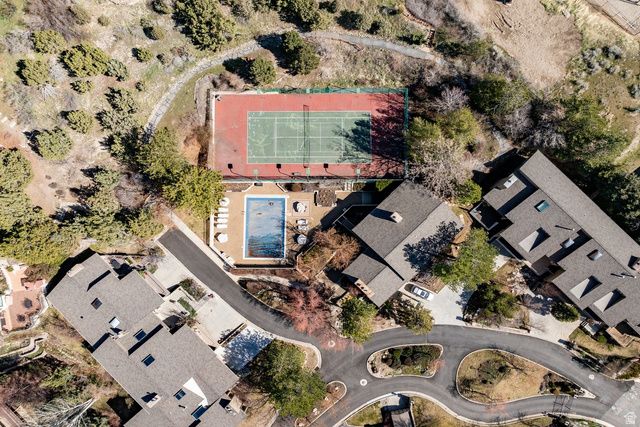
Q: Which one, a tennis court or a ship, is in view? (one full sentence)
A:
Visible in the photo is a tennis court.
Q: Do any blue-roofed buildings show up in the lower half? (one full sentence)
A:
No, I can find no blue-roofed building in the lower half.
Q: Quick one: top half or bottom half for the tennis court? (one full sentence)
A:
Seen from above, the tennis court lies in the top half of the view.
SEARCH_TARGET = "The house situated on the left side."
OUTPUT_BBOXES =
[47,253,248,427]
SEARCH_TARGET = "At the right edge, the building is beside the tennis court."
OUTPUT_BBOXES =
[478,150,640,336]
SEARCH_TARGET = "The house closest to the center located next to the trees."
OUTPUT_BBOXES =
[342,178,464,308]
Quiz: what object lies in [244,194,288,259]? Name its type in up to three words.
swimming pool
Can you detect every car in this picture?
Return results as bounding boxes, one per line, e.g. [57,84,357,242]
[412,284,436,303]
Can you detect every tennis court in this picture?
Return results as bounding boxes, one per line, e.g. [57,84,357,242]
[212,93,406,181]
